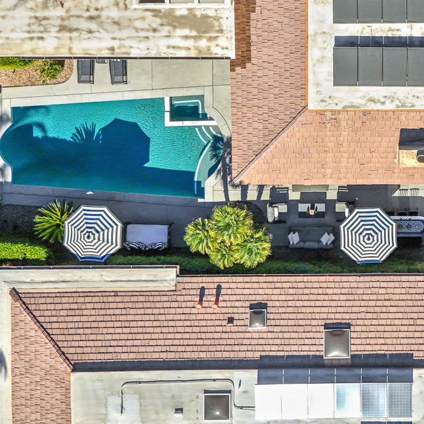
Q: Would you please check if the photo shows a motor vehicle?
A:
No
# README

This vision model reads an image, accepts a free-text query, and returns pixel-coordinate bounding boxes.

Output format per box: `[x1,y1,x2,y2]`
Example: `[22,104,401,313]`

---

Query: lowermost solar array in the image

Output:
[255,383,413,421]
